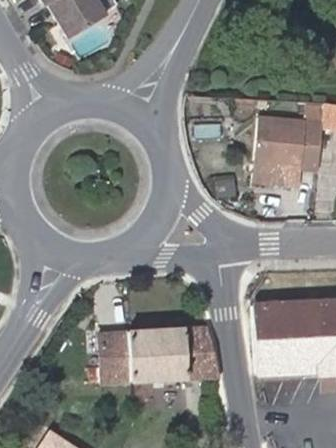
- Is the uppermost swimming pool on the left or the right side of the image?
left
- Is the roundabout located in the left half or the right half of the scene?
left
